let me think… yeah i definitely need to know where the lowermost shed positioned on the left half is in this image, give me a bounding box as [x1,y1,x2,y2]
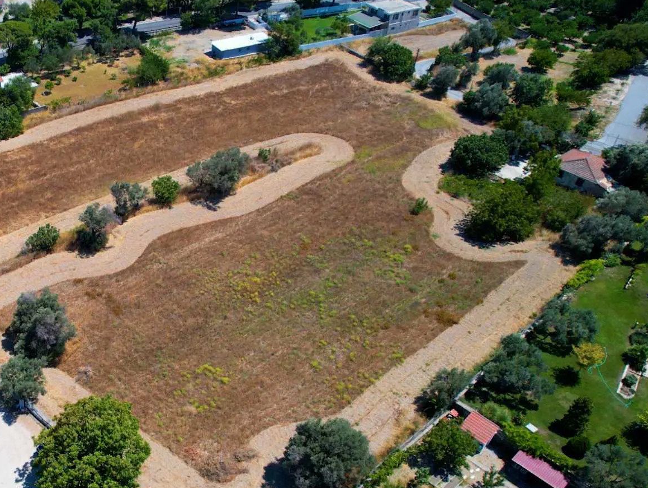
[210,33,273,62]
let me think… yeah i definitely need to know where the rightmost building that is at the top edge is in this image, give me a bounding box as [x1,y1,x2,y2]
[366,0,422,34]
